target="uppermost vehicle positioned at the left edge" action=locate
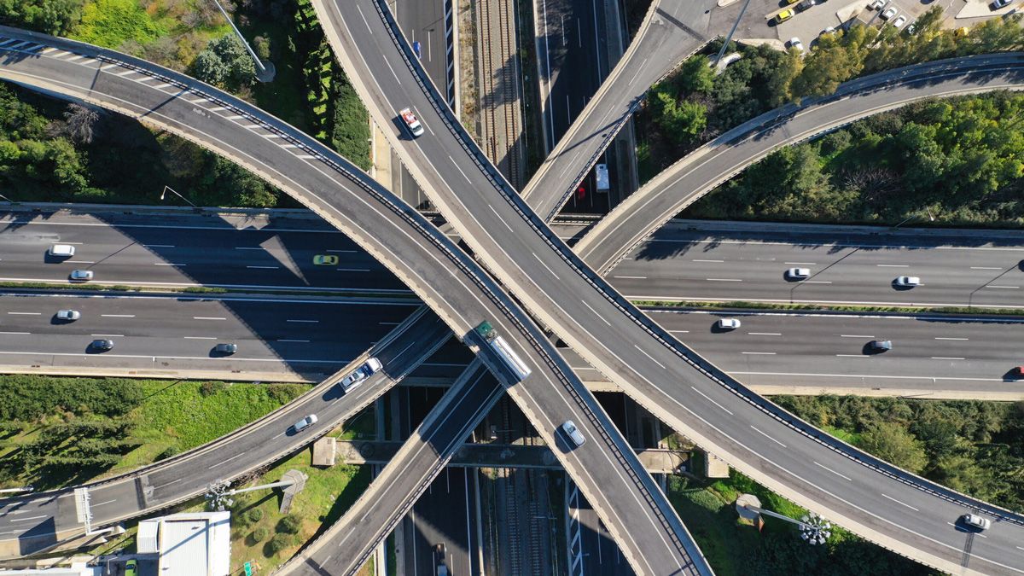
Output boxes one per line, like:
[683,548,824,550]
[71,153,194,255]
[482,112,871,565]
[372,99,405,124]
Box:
[49,244,75,256]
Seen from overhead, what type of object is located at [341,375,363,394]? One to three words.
car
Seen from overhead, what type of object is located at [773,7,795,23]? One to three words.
car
